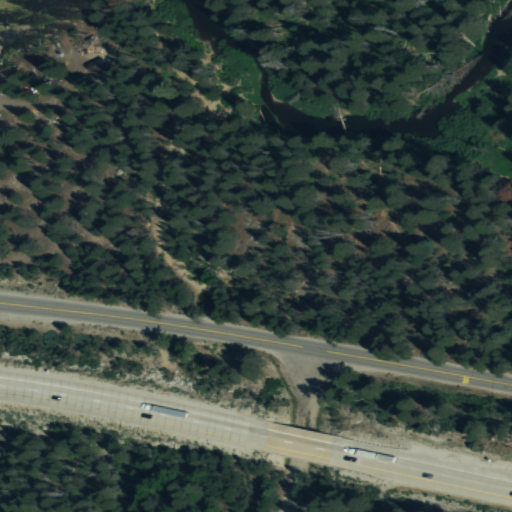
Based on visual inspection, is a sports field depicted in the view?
No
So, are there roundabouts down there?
No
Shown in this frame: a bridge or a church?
bridge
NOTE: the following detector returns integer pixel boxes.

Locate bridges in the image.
[264,422,334,466]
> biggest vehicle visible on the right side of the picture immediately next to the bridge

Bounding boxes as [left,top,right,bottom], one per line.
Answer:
[344,448,398,462]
